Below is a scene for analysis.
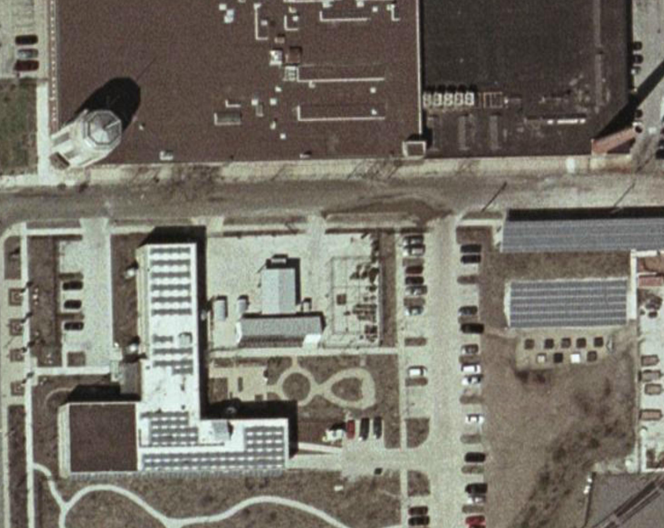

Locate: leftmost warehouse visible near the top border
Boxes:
[45,0,422,172]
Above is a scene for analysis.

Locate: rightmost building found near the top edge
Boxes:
[418,0,631,161]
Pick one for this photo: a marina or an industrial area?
industrial area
